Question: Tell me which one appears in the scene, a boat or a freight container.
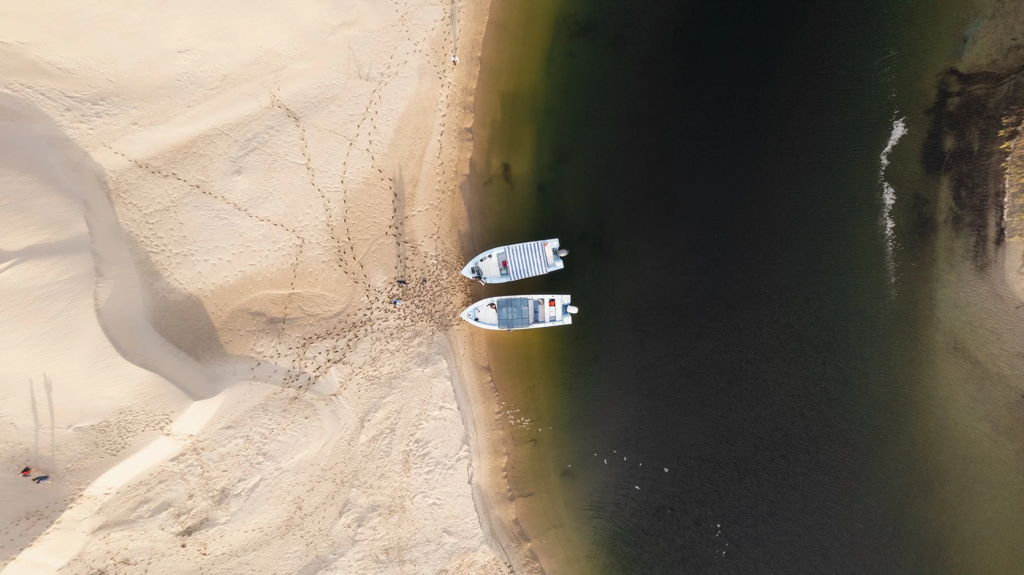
boat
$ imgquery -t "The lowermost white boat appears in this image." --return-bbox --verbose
[460,294,579,330]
